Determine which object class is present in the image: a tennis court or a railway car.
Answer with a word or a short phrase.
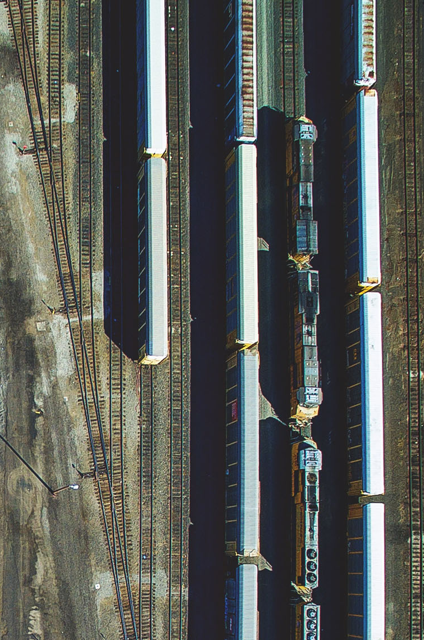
railway car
